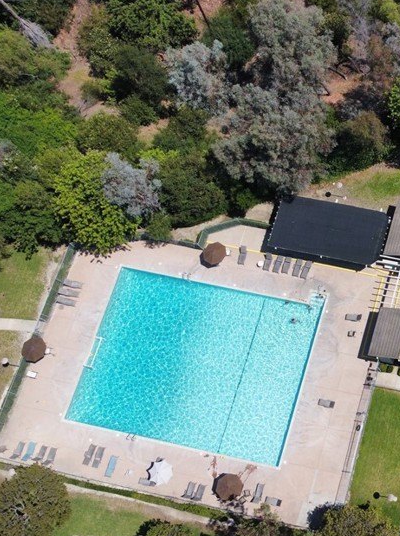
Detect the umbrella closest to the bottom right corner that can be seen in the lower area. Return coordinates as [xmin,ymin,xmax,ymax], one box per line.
[215,472,244,501]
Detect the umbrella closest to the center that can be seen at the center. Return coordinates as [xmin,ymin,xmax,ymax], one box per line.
[203,243,227,265]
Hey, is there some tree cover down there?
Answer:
Yes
